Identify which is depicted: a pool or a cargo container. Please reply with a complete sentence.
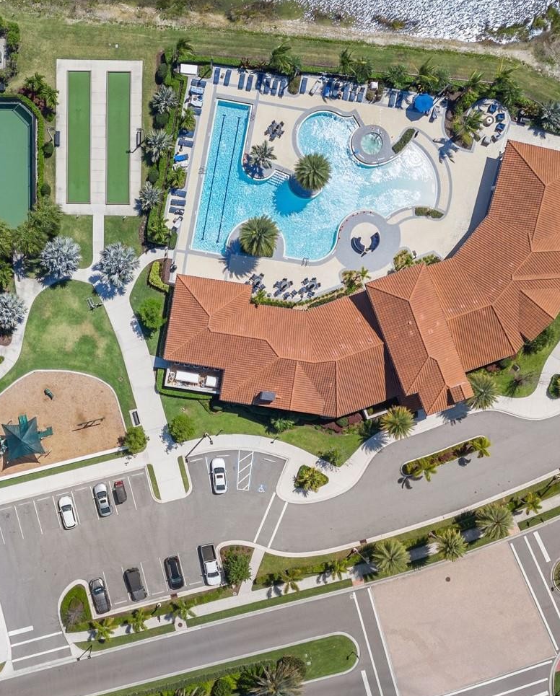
The one in the frame is a pool.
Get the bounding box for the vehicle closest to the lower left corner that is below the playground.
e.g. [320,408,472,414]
[90,577,109,614]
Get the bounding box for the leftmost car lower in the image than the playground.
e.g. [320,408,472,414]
[57,495,78,531]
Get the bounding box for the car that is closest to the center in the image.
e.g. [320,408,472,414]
[210,457,226,494]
